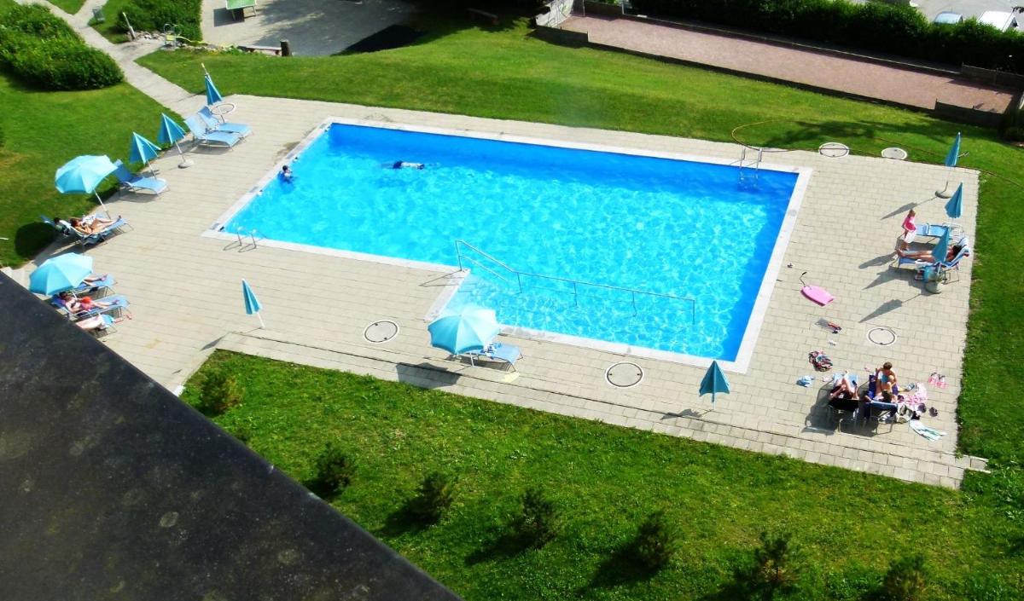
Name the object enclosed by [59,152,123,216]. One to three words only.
umbrella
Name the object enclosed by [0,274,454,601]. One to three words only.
building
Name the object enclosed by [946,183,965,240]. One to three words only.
umbrella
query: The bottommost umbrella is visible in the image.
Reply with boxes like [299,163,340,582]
[698,360,732,408]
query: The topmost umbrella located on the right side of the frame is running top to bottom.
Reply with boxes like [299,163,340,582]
[935,132,959,198]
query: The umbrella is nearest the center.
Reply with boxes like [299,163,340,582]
[427,304,505,365]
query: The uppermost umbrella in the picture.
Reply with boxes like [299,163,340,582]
[202,64,223,106]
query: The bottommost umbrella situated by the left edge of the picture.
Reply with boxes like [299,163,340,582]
[22,250,102,295]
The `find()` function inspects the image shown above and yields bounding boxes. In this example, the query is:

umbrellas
[22,250,102,295]
[698,360,732,408]
[925,225,950,292]
[243,279,264,327]
[935,132,959,198]
[133,132,161,178]
[59,152,123,216]
[946,183,965,240]
[427,304,505,365]
[202,64,223,106]
[161,113,193,168]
